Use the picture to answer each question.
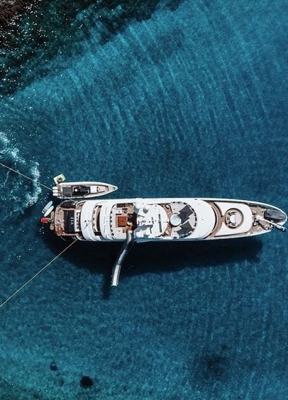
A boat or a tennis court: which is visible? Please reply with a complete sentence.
Looking from above, you can make out a boat.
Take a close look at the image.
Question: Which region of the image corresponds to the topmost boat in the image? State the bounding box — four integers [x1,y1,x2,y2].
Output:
[52,182,119,201]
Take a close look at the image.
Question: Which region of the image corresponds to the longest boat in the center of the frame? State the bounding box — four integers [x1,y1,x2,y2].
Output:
[47,197,287,242]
